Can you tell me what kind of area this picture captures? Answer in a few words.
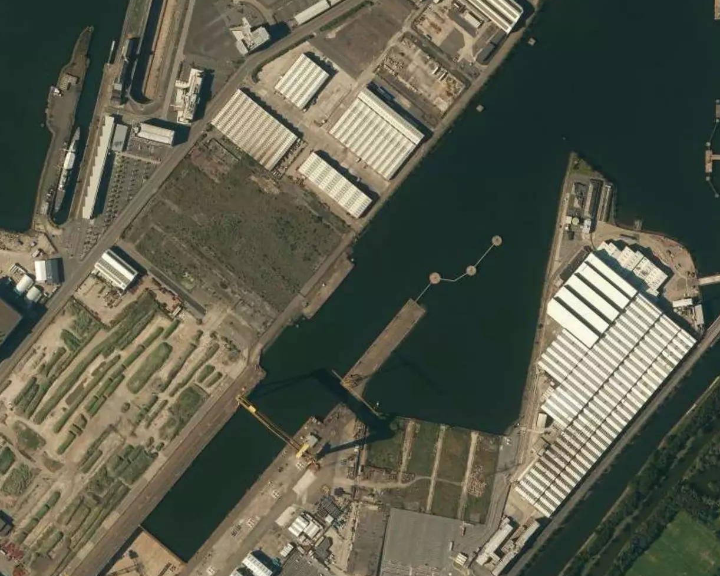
port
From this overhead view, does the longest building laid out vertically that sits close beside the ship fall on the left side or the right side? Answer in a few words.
left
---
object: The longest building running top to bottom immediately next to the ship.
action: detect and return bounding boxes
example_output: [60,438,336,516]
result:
[82,115,114,219]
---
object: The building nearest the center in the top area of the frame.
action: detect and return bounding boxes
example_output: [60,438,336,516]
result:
[298,153,372,218]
